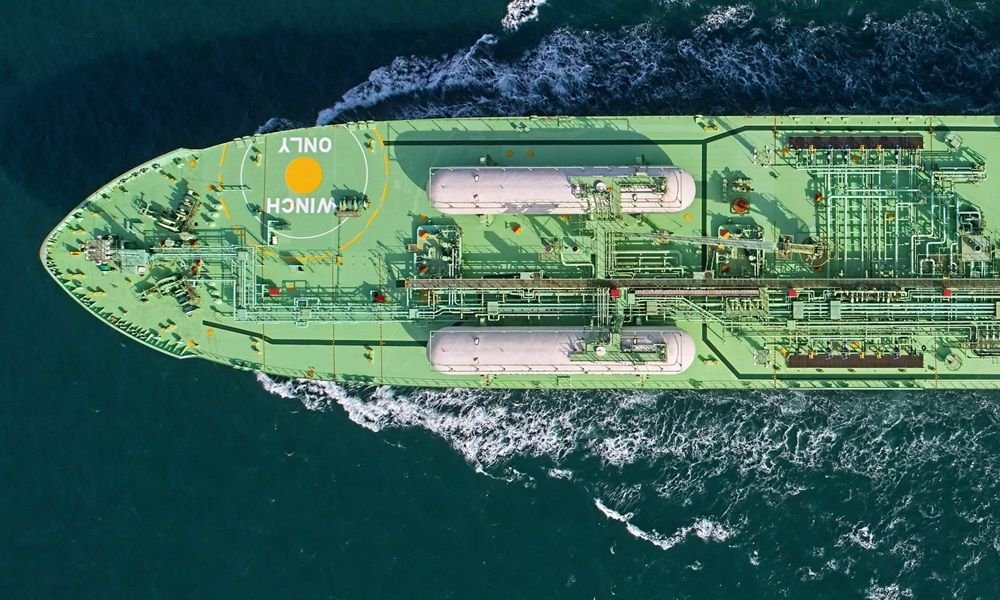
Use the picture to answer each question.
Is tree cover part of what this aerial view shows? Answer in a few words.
No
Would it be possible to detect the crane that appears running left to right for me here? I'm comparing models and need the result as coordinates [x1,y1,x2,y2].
[653,233,832,272]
